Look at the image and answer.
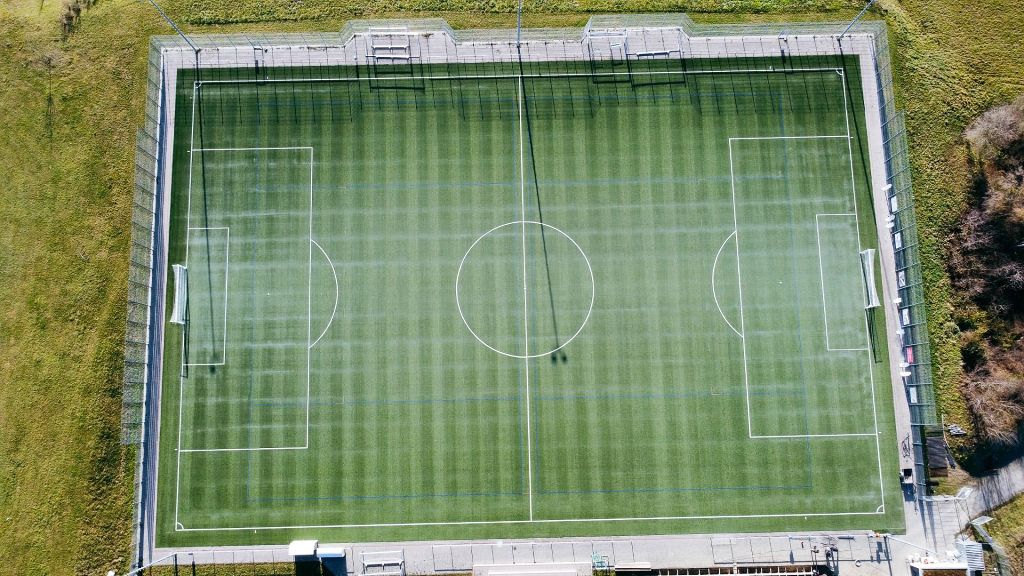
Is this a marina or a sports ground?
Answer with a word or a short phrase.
sports ground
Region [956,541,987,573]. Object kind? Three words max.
shed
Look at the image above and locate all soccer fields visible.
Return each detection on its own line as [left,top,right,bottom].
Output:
[155,55,905,548]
